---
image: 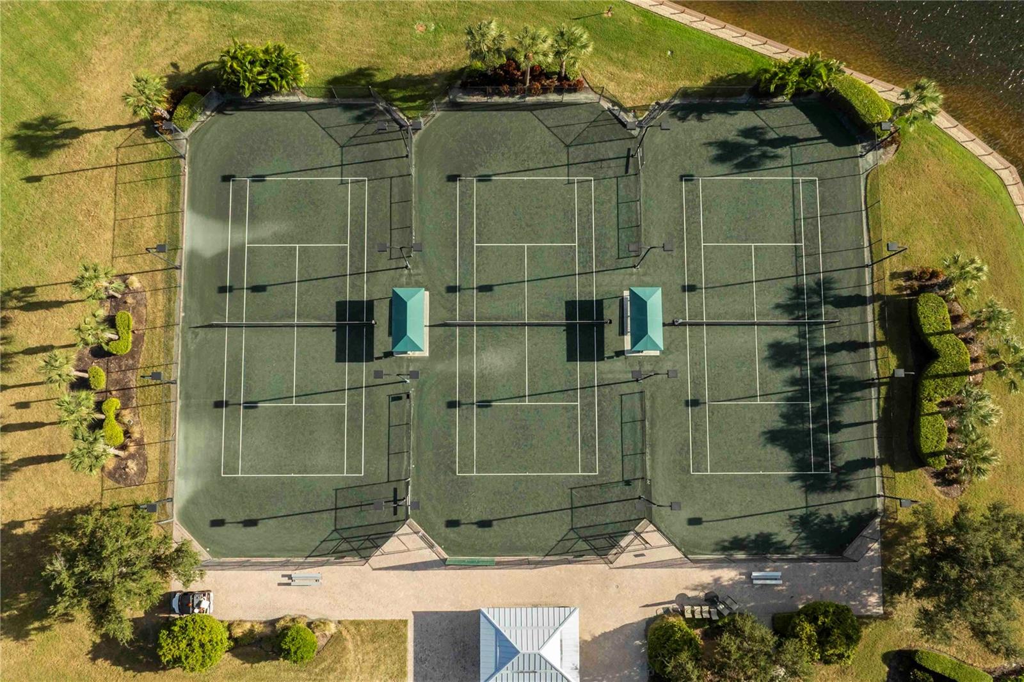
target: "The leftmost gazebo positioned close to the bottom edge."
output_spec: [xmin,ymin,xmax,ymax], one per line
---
[480,605,579,682]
